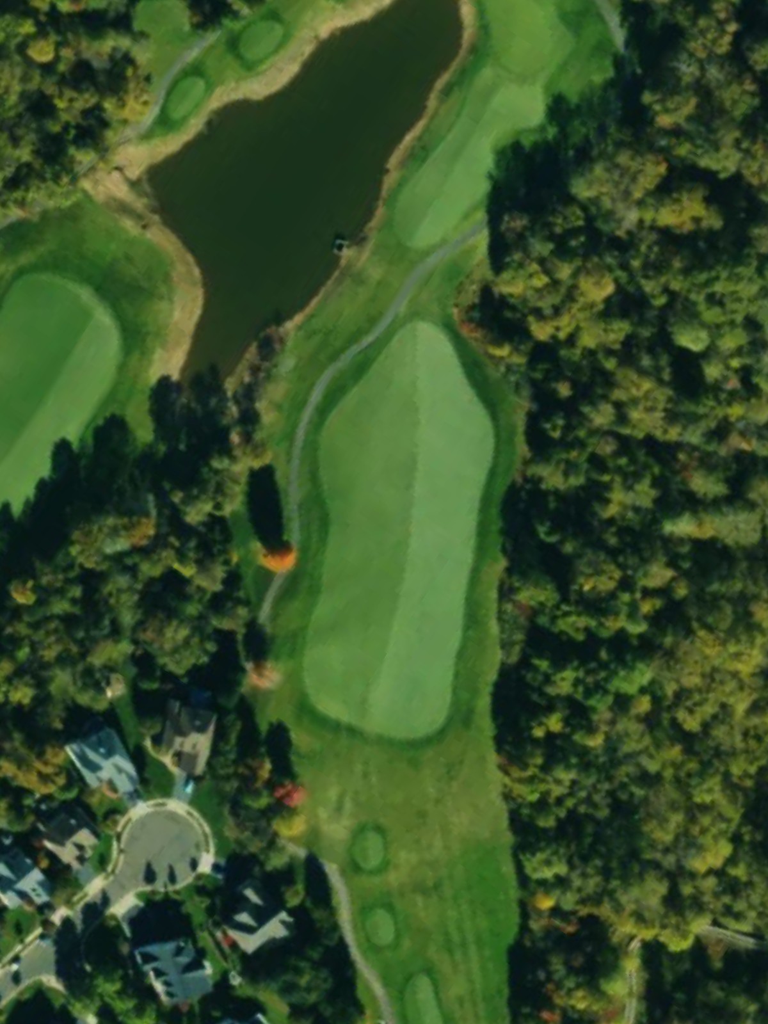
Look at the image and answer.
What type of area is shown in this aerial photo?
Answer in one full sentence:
It's a golf course.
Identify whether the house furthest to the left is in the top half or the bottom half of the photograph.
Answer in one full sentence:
You can find the house furthest to the left in the bottom half.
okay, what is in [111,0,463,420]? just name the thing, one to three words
pond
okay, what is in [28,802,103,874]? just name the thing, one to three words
house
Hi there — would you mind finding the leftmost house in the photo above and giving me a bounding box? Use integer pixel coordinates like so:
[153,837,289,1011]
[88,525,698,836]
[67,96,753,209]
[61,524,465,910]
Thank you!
[0,838,58,911]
